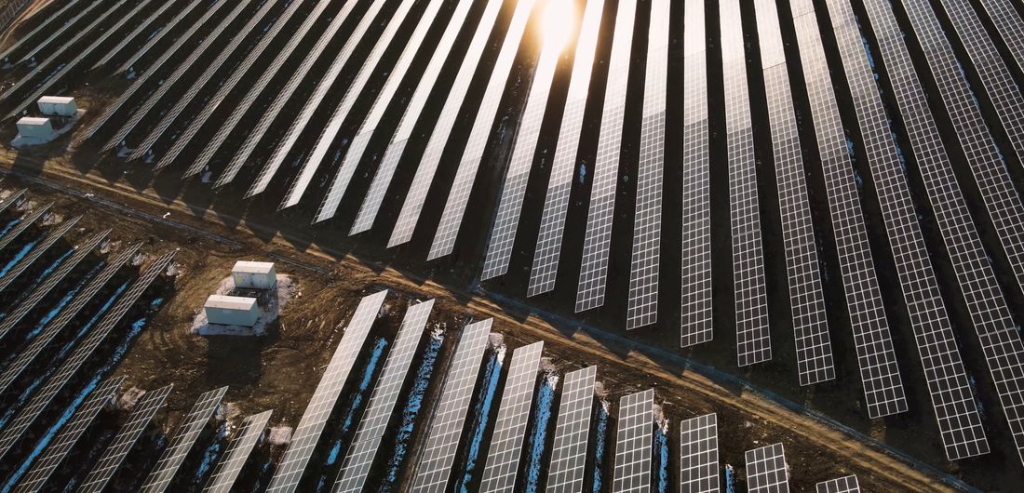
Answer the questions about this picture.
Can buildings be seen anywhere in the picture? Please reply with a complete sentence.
Yes, the frame does contain a building.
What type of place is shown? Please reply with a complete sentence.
What you see here is a solar farm.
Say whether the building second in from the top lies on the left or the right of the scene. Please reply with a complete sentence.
You can find the building second in from the top on the left side of the picture.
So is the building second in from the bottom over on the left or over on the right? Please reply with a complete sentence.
The building second in from the bottom appears in the left half of the scene.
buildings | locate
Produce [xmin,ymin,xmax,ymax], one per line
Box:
[201,292,261,323]
[12,116,55,138]
[36,95,79,116]
[229,260,277,288]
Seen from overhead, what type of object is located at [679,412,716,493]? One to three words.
solar array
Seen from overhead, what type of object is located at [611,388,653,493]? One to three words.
solar array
